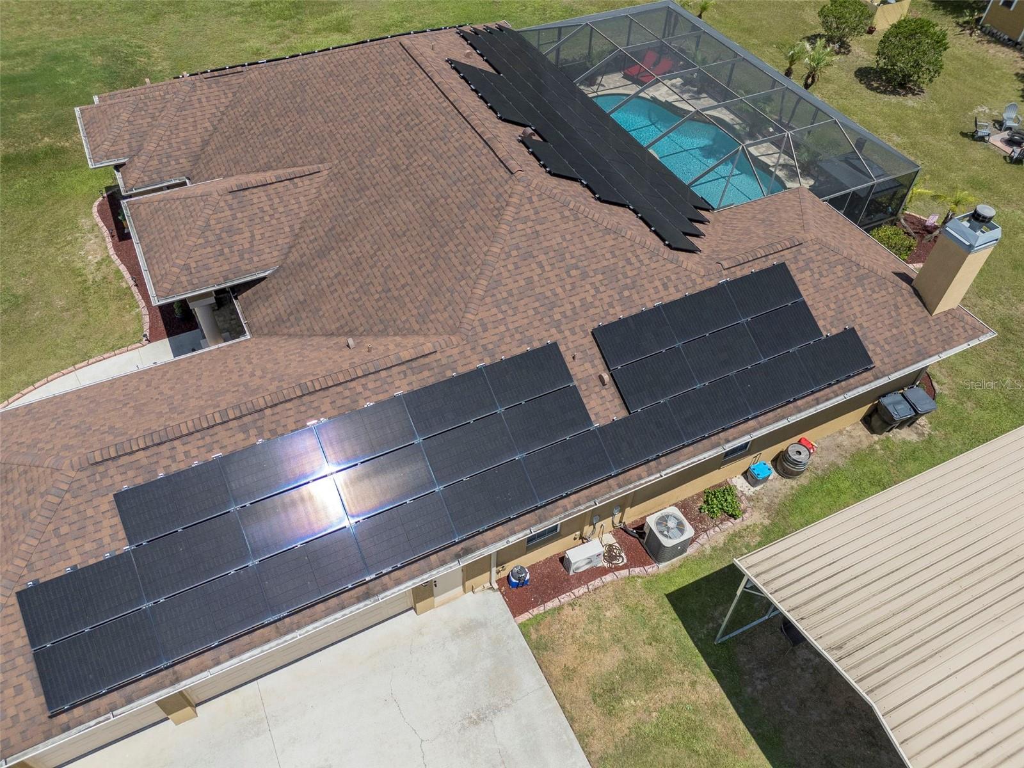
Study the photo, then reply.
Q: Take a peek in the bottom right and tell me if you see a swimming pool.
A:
No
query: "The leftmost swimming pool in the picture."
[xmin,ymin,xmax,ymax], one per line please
[693,157,780,213]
